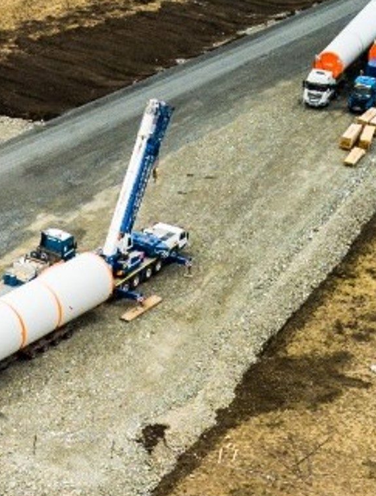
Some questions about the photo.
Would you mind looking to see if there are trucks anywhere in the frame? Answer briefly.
Yes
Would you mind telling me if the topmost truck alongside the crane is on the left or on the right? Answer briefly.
left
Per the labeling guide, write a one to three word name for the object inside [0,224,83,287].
truck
